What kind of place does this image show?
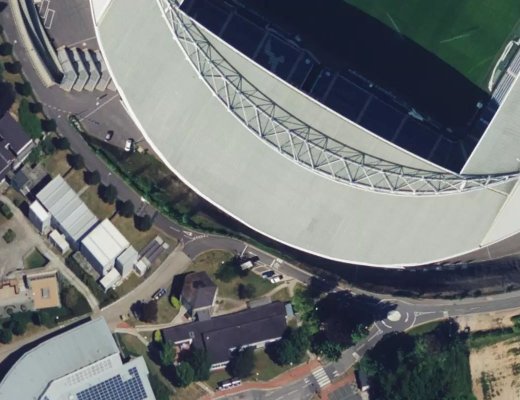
sports ground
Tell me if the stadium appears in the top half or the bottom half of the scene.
top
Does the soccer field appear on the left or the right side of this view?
right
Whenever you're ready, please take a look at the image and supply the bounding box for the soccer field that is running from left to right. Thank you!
[266,0,520,121]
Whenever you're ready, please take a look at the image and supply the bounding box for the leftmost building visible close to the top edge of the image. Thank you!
[10,0,64,89]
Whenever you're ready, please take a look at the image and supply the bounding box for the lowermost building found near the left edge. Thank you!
[0,316,155,400]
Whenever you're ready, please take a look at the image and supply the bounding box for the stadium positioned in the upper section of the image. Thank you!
[89,0,520,273]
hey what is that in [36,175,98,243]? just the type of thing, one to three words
shed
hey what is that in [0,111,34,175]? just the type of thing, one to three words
building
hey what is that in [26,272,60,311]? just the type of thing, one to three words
building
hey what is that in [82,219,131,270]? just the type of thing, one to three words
shed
